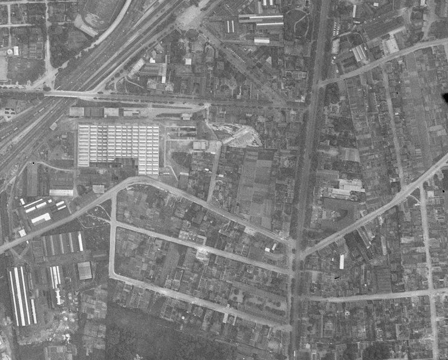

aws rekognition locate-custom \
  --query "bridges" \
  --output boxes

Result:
[48,89,112,101]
